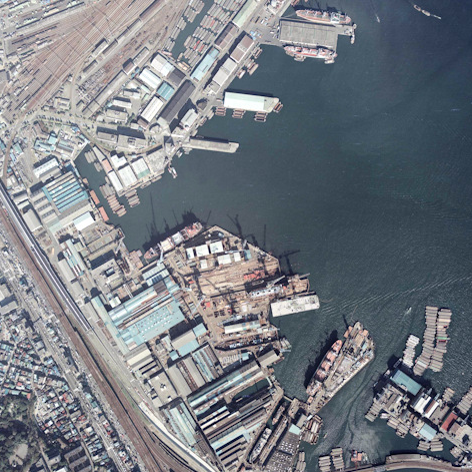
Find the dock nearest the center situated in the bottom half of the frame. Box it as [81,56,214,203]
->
[271,295,320,316]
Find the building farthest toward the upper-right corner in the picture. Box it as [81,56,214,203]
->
[279,20,337,49]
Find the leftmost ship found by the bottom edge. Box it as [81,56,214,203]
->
[248,429,270,463]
